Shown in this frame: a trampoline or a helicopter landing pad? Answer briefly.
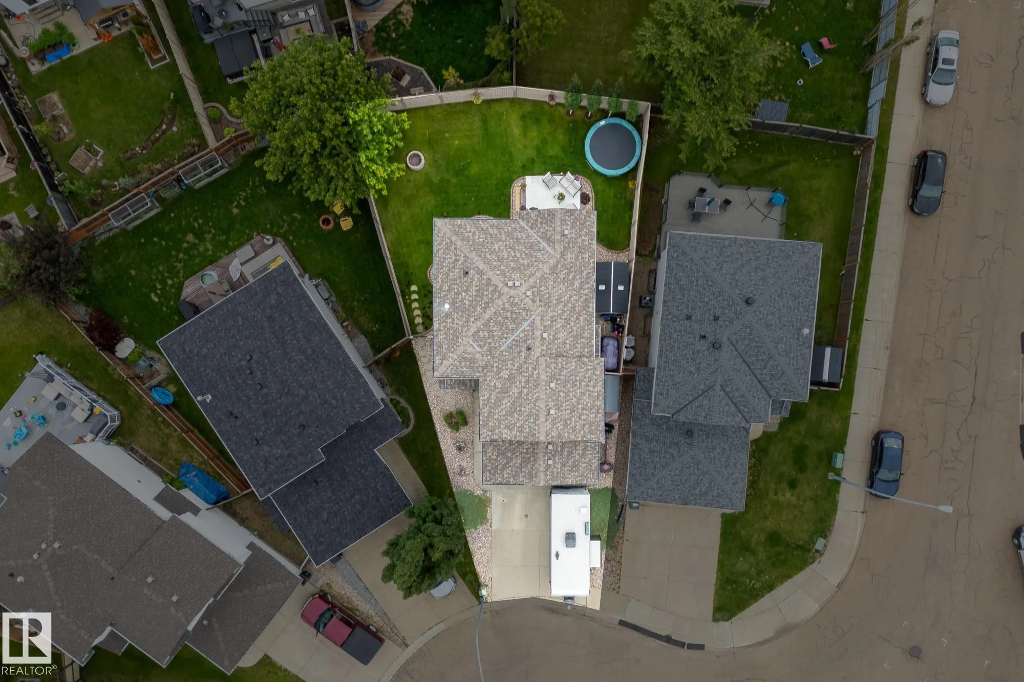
trampoline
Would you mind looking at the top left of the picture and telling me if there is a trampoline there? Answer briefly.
No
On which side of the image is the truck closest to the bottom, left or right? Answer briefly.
left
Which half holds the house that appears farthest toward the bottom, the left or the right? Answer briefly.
left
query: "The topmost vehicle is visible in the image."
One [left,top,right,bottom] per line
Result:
[917,27,961,108]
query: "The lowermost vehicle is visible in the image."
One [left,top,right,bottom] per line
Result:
[305,596,380,667]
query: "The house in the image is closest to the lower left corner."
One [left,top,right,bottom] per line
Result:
[0,432,304,674]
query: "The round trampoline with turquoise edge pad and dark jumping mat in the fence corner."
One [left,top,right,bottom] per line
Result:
[584,117,642,176]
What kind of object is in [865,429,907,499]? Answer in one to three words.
car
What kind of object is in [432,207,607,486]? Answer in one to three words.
house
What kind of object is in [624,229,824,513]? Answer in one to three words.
house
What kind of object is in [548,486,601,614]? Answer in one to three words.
trailer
